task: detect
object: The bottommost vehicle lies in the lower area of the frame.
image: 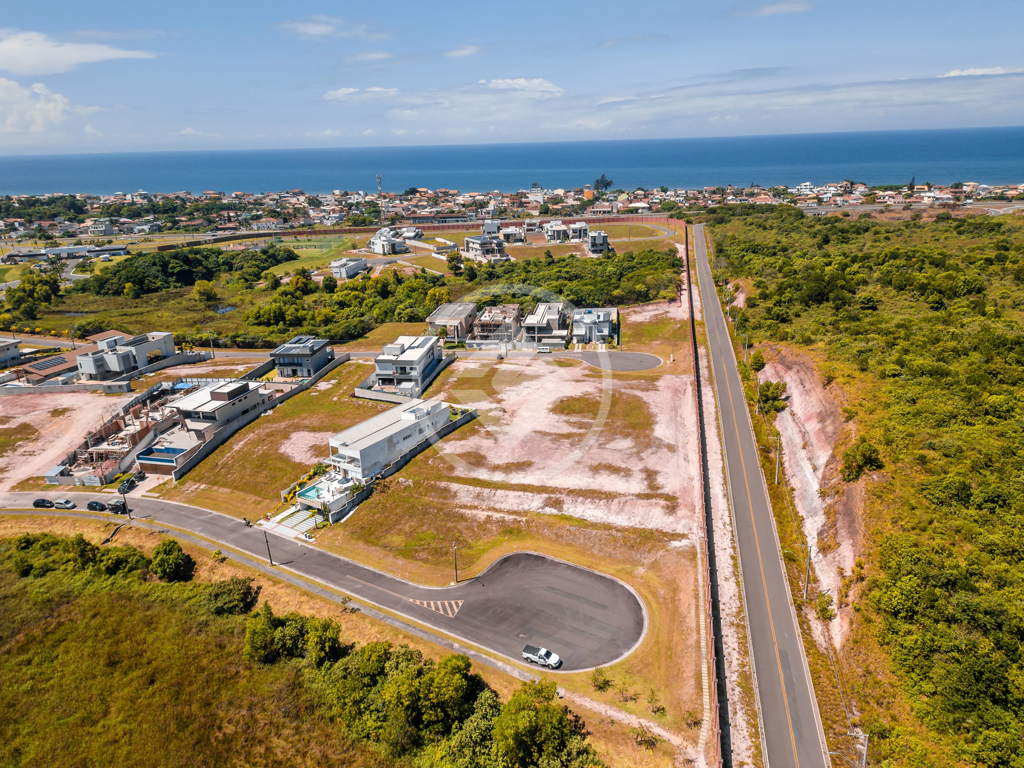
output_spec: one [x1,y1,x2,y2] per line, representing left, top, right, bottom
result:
[522,643,563,668]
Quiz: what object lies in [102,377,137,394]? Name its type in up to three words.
shed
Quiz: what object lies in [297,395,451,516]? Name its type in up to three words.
building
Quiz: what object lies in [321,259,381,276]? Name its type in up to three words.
house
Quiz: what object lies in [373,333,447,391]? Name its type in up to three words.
house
